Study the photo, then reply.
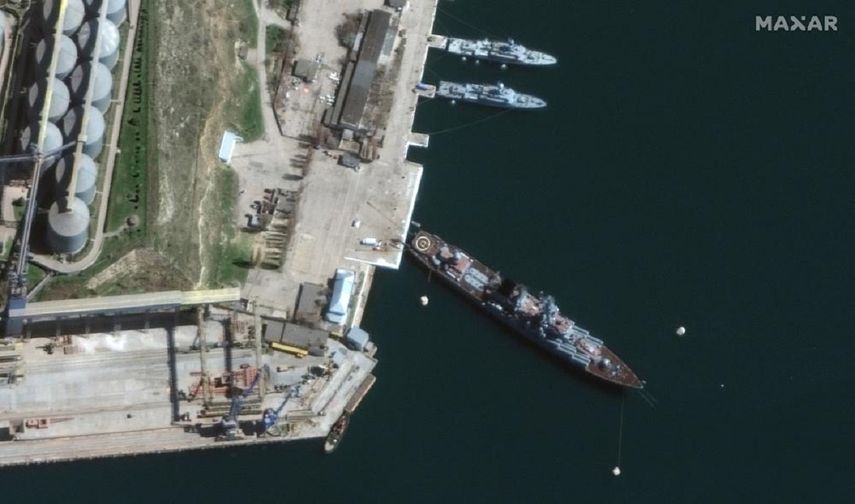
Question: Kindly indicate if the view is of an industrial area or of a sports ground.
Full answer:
This image shows an industrial area.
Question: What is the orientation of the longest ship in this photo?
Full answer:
I'd say the longest ship is aligned diagonally in the picture.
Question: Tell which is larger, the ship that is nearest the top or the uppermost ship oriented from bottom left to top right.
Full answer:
Compared with the uppermost ship oriented from bottom left to top right, the ship that is nearest the top is the larger one.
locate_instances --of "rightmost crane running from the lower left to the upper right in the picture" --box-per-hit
[259,388,298,439]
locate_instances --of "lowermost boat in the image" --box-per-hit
[329,410,352,455]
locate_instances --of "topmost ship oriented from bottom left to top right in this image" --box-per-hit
[346,373,377,413]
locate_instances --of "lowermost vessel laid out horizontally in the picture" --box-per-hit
[438,81,547,108]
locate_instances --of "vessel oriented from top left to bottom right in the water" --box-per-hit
[403,226,656,408]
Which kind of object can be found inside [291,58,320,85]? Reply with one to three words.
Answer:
building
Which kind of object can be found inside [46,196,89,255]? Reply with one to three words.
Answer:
silo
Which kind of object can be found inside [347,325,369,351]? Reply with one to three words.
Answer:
house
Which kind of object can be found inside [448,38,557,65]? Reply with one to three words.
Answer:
ship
